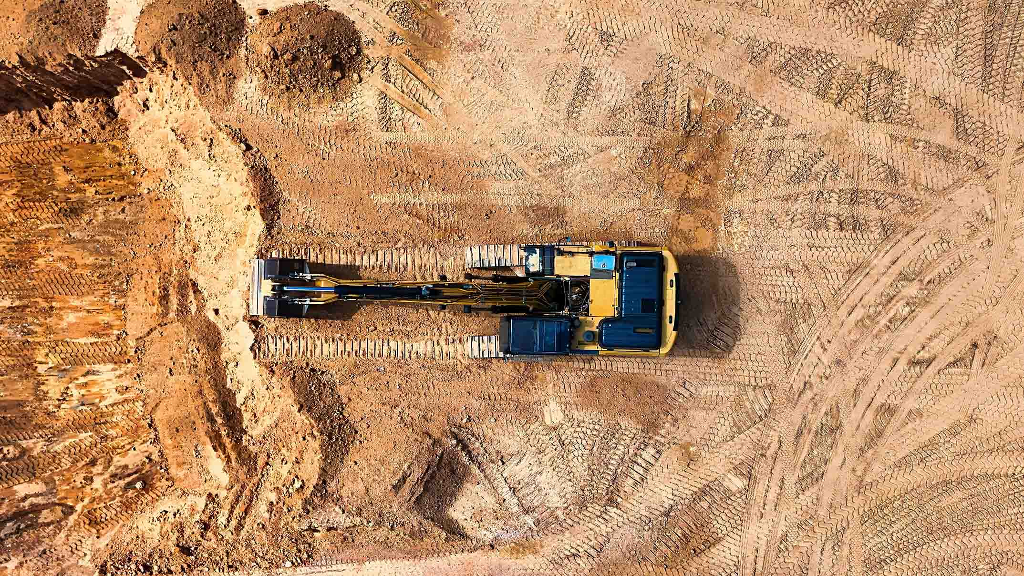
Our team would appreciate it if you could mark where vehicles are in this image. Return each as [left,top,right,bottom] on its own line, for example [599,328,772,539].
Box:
[245,236,682,363]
